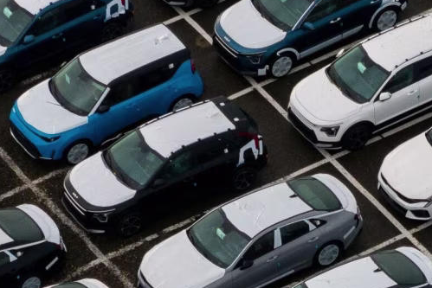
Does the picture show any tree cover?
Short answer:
No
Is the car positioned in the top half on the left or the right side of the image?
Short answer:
left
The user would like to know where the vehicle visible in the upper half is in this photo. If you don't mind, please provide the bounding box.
[9,21,204,166]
